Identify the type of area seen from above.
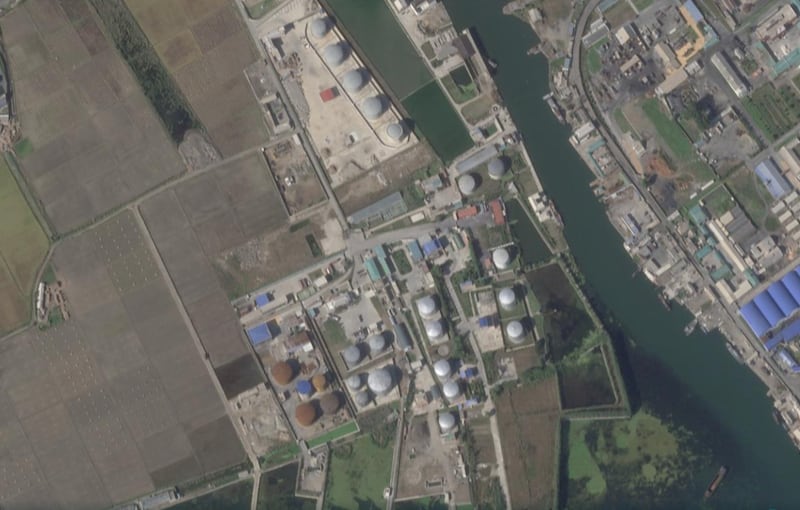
port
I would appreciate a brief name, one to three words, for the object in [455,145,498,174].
shed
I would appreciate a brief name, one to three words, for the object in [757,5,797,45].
building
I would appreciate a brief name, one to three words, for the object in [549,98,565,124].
ship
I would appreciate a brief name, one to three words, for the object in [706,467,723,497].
vessel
